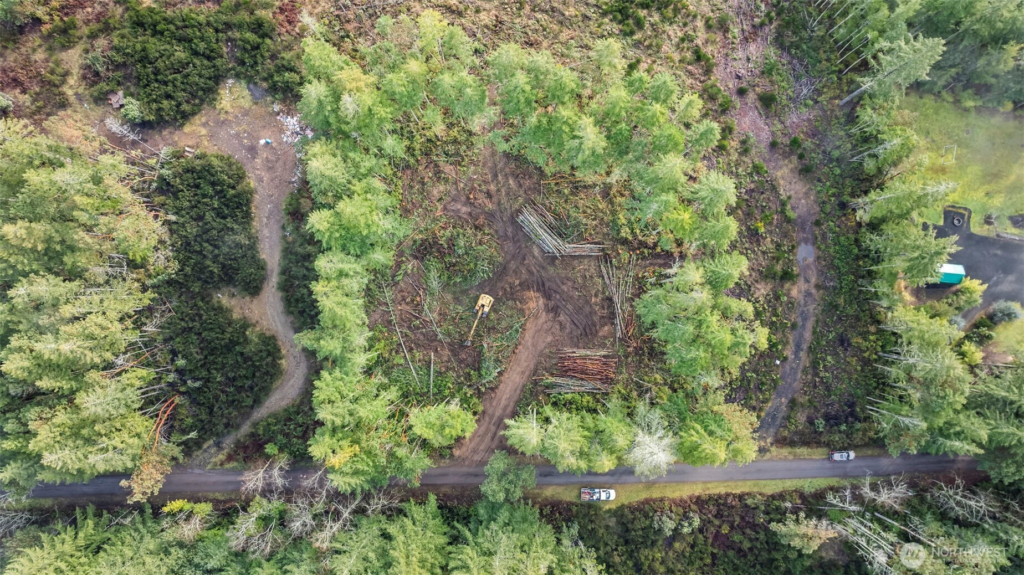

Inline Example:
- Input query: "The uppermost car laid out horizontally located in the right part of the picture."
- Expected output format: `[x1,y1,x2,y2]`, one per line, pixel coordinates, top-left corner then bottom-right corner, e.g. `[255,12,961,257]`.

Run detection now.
[831,451,857,463]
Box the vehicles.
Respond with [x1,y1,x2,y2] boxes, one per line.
[467,291,495,343]
[831,451,857,463]
[581,490,617,504]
